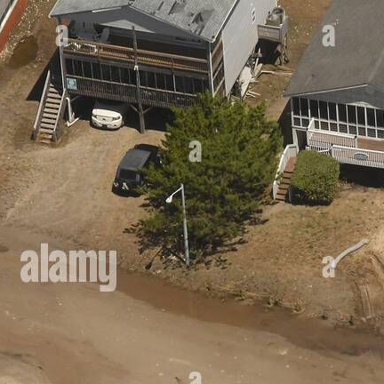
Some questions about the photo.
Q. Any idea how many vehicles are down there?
2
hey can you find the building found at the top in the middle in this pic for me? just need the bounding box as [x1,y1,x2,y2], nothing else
[30,0,296,139]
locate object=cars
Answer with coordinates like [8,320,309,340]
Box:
[115,139,163,187]
[88,101,131,126]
